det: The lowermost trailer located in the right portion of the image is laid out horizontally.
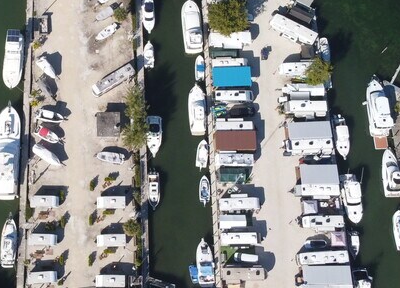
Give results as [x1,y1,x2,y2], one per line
[219,267,266,280]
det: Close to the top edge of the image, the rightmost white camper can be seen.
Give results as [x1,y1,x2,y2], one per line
[268,14,317,45]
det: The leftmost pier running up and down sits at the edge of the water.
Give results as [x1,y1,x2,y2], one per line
[201,0,222,288]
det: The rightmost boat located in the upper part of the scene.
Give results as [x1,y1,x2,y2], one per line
[365,72,394,145]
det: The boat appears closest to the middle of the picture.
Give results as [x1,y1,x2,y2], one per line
[195,137,208,169]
